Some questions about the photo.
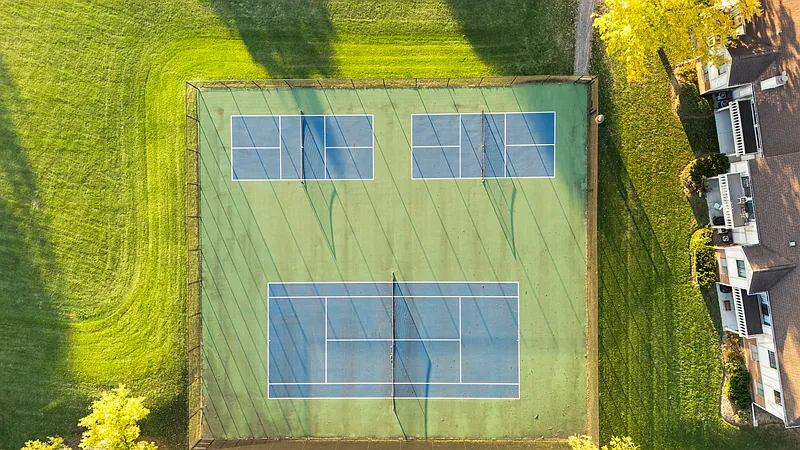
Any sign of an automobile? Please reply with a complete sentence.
No, I find no automobile anywhere in the image.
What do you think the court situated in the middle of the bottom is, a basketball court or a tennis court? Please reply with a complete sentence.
In the photo, the court situated in the middle of the bottom shows up as a tennis court.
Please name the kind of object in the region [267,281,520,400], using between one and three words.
tennis court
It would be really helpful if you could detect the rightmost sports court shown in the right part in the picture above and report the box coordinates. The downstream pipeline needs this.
[411,111,556,179]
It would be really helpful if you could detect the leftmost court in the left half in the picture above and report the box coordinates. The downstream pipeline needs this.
[230,114,374,180]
